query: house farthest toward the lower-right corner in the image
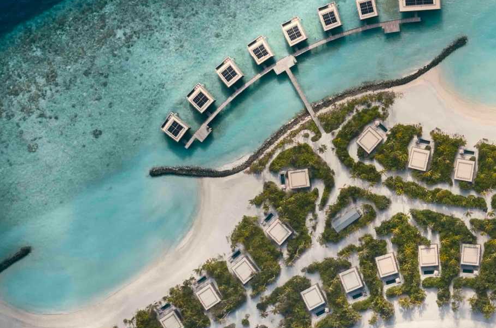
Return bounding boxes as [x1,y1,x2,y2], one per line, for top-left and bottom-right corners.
[459,243,482,276]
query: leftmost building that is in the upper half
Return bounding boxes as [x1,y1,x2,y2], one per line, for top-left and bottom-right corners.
[161,113,192,141]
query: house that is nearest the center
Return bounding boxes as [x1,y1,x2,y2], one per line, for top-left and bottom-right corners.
[279,167,312,190]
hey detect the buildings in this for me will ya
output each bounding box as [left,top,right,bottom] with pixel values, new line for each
[339,266,369,301]
[156,299,187,328]
[418,244,441,277]
[454,149,478,181]
[246,36,276,66]
[357,119,390,154]
[301,284,333,319]
[215,57,246,87]
[161,113,192,141]
[187,84,217,114]
[333,210,360,232]
[260,210,294,244]
[356,0,379,25]
[408,136,433,171]
[317,2,343,33]
[281,17,308,46]
[226,248,259,283]
[279,167,312,190]
[459,243,482,276]
[375,252,403,287]
[193,275,223,310]
[399,0,441,11]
